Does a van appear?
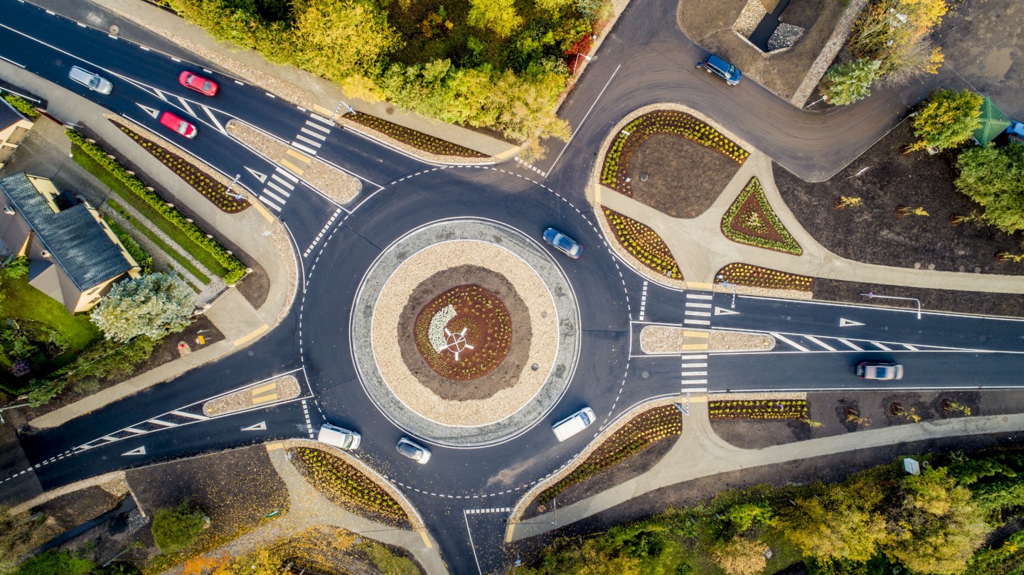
Yes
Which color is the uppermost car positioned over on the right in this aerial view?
blue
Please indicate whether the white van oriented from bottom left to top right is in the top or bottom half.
bottom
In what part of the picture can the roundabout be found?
center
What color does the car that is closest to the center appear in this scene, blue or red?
blue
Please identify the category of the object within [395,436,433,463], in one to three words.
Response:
car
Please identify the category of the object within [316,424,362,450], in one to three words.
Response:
vehicle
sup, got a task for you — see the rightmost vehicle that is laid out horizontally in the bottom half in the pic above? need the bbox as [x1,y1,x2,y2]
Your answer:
[857,362,900,380]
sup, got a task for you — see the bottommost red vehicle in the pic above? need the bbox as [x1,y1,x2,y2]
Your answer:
[157,111,199,139]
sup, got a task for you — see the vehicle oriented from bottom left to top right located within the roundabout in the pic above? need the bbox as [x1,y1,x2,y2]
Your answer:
[553,407,596,442]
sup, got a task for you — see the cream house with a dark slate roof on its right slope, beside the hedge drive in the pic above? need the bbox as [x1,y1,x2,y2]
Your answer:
[0,166,149,317]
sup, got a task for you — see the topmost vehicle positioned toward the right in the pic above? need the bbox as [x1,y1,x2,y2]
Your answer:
[696,53,742,84]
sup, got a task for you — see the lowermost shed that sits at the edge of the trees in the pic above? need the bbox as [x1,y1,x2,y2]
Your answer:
[897,455,923,476]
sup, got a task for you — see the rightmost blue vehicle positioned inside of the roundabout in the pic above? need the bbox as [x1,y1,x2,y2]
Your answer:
[542,227,583,259]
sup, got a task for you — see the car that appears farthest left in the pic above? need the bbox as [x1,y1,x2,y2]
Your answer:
[68,65,114,95]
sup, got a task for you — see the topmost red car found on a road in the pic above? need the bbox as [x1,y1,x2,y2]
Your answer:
[180,71,221,97]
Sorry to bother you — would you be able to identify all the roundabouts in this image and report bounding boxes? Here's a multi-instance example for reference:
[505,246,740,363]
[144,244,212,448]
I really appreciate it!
[296,165,635,502]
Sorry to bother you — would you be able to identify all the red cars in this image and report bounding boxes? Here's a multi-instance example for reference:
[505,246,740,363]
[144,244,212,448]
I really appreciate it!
[180,71,221,97]
[157,111,199,139]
